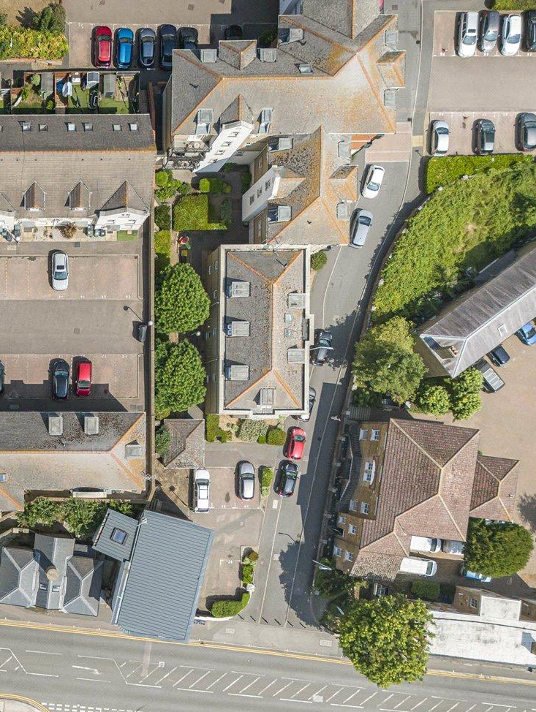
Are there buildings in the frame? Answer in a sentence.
Yes, the frame does contain a building.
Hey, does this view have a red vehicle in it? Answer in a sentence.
Yes, looking at the shot, I can spot a red vehicle.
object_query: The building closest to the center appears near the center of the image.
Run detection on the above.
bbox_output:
[201,245,313,416]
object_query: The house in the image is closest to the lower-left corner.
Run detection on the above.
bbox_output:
[0,531,103,616]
